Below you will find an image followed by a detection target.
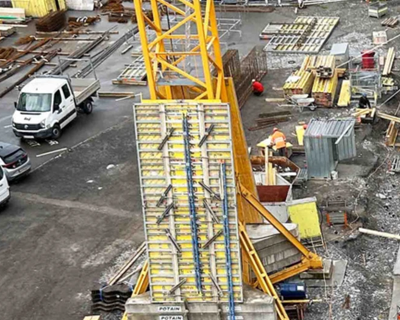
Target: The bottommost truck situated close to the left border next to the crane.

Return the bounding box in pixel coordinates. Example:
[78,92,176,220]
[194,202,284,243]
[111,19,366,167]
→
[17,67,103,133]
